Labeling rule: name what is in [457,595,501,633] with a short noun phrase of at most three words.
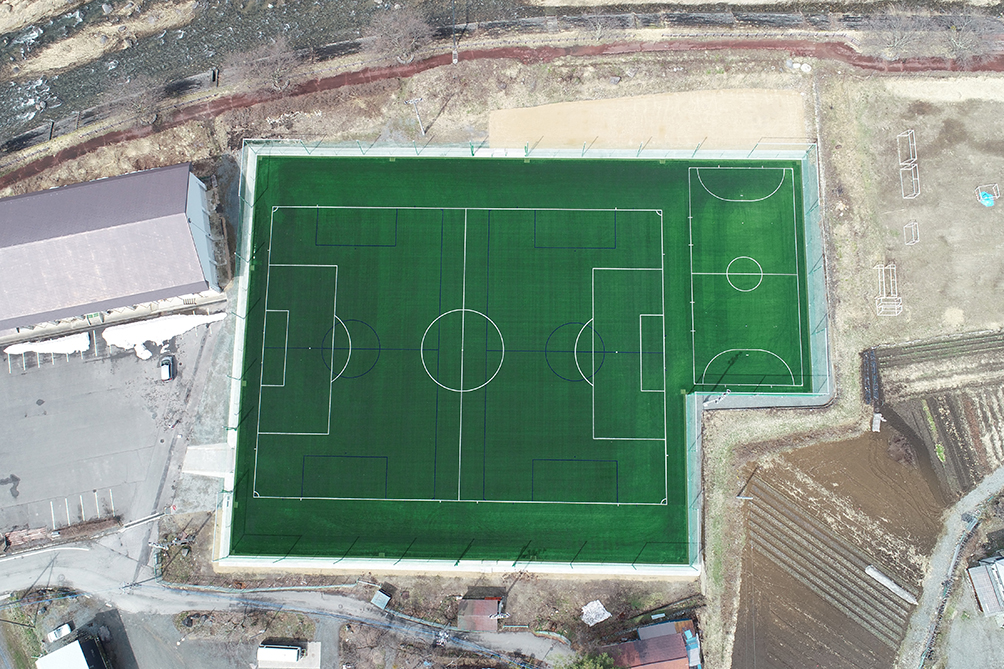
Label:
shed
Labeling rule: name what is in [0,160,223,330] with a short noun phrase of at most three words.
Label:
building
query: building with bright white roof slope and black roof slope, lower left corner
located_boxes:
[36,630,123,669]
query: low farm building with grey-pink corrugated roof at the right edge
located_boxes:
[959,549,1004,615]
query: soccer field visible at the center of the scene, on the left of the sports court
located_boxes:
[230,156,689,563]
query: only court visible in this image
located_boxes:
[674,160,812,391]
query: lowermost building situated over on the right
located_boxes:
[593,617,703,669]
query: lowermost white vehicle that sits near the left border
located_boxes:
[48,623,74,643]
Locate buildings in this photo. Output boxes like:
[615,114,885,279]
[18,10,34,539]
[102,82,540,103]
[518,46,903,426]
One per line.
[959,549,1004,615]
[0,160,223,330]
[36,630,123,669]
[593,617,703,669]
[457,595,501,633]
[372,589,392,609]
